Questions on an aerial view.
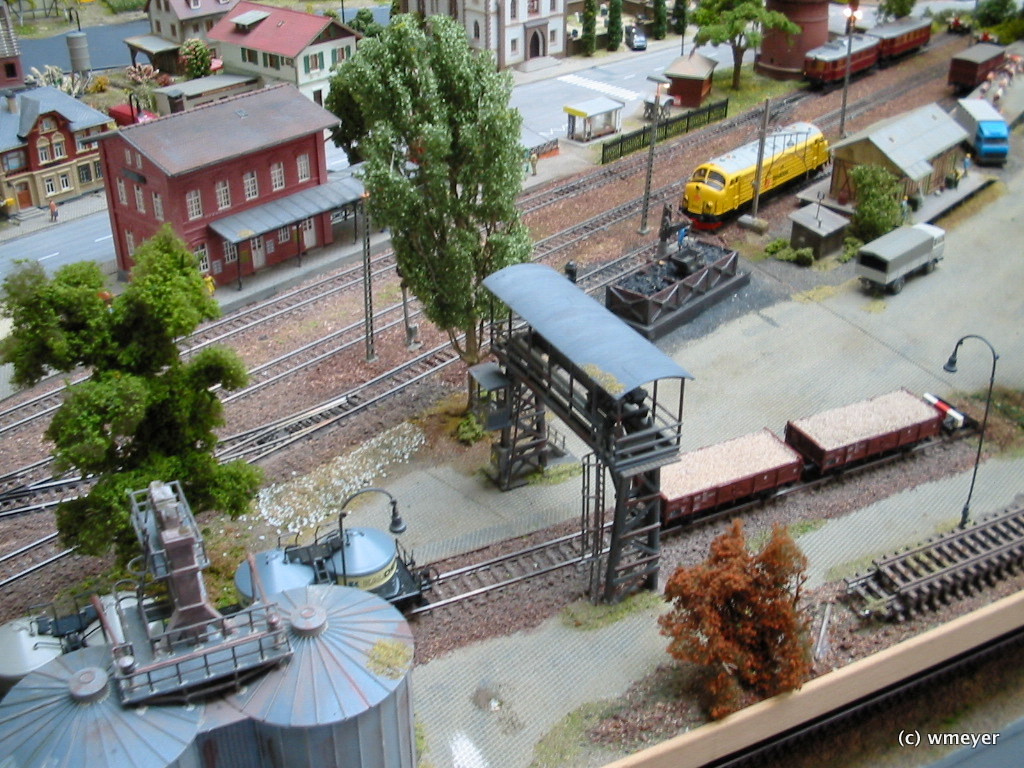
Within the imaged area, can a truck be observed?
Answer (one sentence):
Yes, this view includes a truck.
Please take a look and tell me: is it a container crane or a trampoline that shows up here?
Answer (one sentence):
Of the two, only a container crane appears.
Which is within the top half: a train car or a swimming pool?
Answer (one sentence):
Visible within the top half is a train car.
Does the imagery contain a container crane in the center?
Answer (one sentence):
Yes, a container crane is visible in the center.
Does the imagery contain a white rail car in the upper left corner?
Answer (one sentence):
No, no white rail car can be made out in the upper left corner.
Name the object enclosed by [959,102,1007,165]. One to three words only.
truck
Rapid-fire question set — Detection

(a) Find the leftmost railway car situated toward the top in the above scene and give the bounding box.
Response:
[682,135,827,233]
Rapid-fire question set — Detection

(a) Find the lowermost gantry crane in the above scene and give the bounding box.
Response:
[465,258,696,606]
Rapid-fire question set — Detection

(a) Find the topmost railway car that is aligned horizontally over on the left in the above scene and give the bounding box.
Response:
[224,518,426,625]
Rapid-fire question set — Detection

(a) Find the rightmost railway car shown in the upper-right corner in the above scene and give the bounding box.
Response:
[948,45,1004,88]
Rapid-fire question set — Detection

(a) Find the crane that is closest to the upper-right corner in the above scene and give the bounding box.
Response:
[641,197,700,259]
